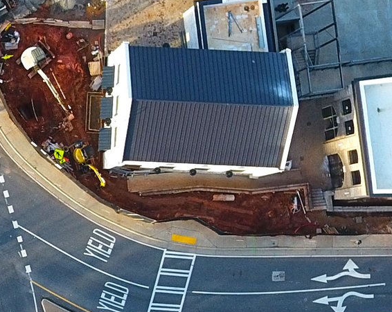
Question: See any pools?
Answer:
No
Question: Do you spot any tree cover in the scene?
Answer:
No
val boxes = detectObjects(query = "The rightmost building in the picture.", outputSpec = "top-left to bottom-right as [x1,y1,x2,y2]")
[315,72,392,207]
